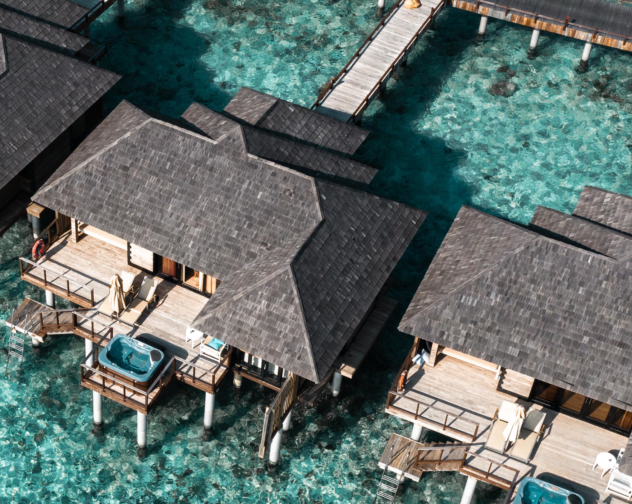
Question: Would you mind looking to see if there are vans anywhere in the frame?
No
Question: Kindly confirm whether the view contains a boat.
No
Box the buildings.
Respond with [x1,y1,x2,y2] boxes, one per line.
[365,185,632,504]
[4,87,431,464]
